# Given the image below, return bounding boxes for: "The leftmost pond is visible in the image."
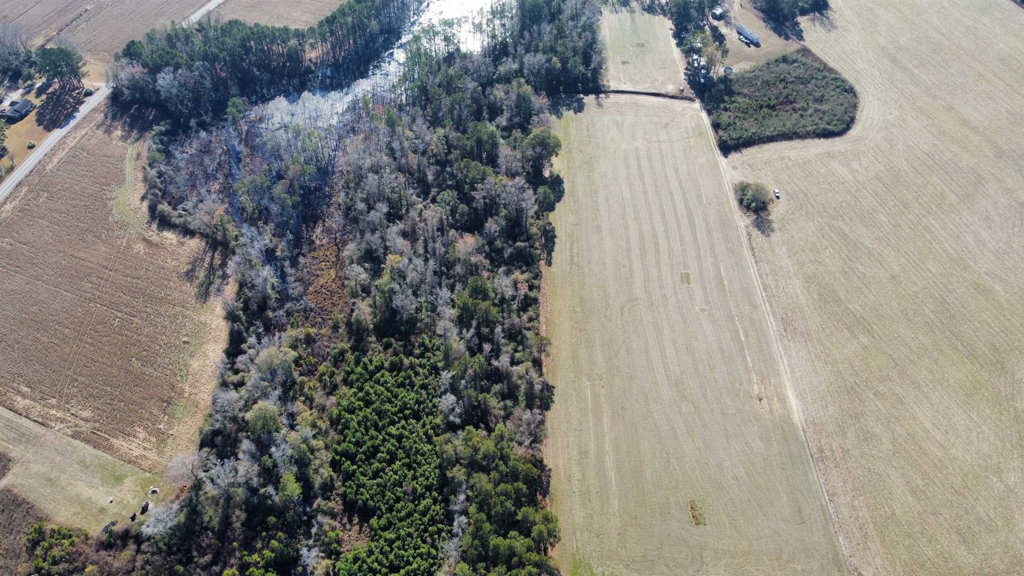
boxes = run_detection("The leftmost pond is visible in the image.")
[251,0,511,142]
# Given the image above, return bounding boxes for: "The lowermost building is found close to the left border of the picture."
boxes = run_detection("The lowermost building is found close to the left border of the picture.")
[3,98,35,120]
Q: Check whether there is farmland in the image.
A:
Yes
